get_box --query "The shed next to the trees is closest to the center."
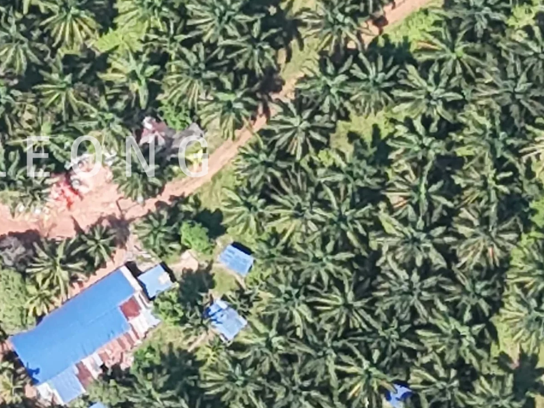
[219,245,253,279]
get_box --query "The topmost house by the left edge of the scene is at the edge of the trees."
[9,267,161,403]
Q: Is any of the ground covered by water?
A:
No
